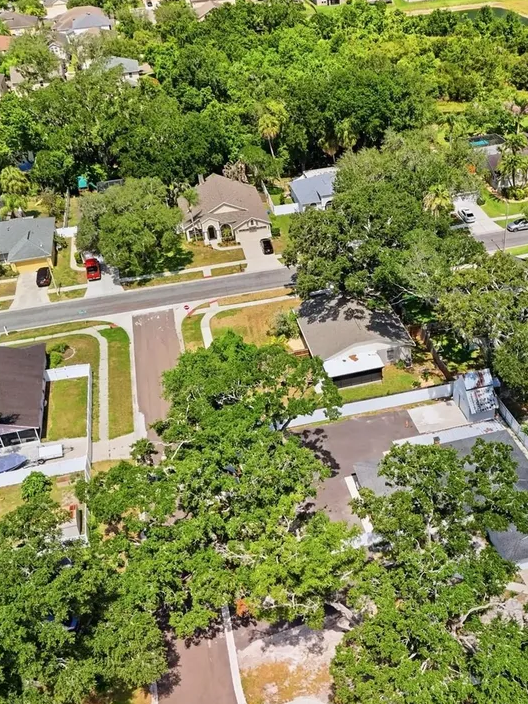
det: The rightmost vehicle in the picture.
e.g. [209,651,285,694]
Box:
[504,216,528,232]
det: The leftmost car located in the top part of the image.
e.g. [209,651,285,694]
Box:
[34,270,49,285]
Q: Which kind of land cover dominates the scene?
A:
trees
